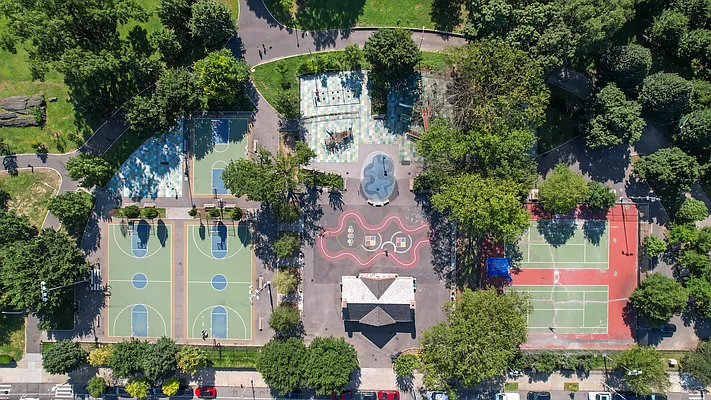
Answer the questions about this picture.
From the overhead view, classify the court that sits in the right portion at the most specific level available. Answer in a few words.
tennis court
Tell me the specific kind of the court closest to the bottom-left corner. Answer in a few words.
basketball court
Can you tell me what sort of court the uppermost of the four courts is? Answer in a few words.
basketball court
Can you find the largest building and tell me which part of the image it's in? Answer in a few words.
bottom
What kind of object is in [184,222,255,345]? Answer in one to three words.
basketball court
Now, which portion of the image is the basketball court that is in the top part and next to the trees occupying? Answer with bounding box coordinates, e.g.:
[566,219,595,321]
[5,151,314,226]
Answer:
[190,115,252,198]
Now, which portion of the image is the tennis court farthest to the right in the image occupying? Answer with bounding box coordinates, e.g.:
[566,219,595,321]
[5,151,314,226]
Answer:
[480,204,637,349]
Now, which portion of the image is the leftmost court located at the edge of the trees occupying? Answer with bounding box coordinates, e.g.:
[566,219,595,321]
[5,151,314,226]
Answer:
[105,222,174,342]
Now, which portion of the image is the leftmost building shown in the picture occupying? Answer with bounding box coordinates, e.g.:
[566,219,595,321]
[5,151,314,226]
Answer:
[340,267,419,329]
